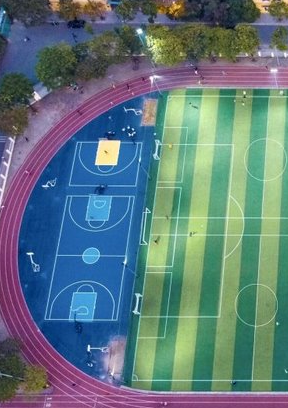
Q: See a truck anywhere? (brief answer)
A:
No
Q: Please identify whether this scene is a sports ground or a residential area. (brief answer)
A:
sports ground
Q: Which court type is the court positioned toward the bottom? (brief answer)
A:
basketball court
